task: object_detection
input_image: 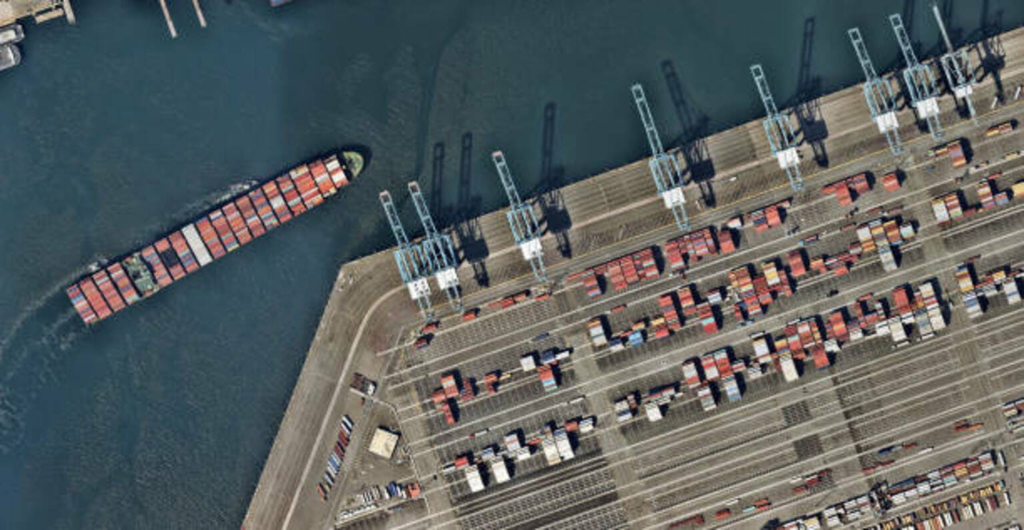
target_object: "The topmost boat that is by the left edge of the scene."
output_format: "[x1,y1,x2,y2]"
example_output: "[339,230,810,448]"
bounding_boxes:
[0,27,25,50]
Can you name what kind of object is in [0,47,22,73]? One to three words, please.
boat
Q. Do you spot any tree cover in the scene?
No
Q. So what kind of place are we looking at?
port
